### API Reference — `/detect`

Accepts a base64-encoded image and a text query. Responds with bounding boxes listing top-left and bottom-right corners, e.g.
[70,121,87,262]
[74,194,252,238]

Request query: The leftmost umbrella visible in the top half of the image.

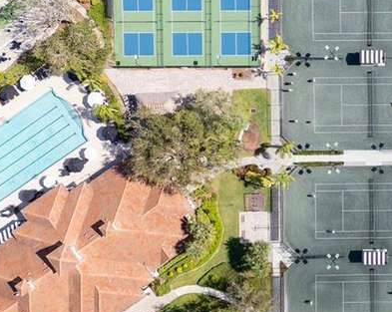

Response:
[1,87,18,102]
